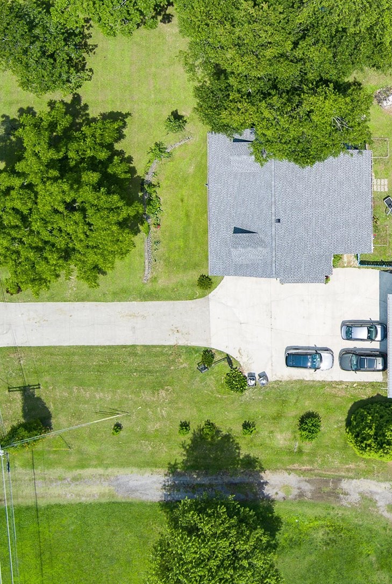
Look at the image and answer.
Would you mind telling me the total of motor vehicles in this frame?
3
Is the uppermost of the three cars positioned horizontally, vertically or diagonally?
horizontally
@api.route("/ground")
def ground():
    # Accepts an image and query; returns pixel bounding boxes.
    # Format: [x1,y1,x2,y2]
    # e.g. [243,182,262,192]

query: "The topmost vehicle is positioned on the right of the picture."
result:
[342,321,386,342]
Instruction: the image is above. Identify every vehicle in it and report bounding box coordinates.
[342,321,386,342]
[341,350,386,373]
[286,348,334,371]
